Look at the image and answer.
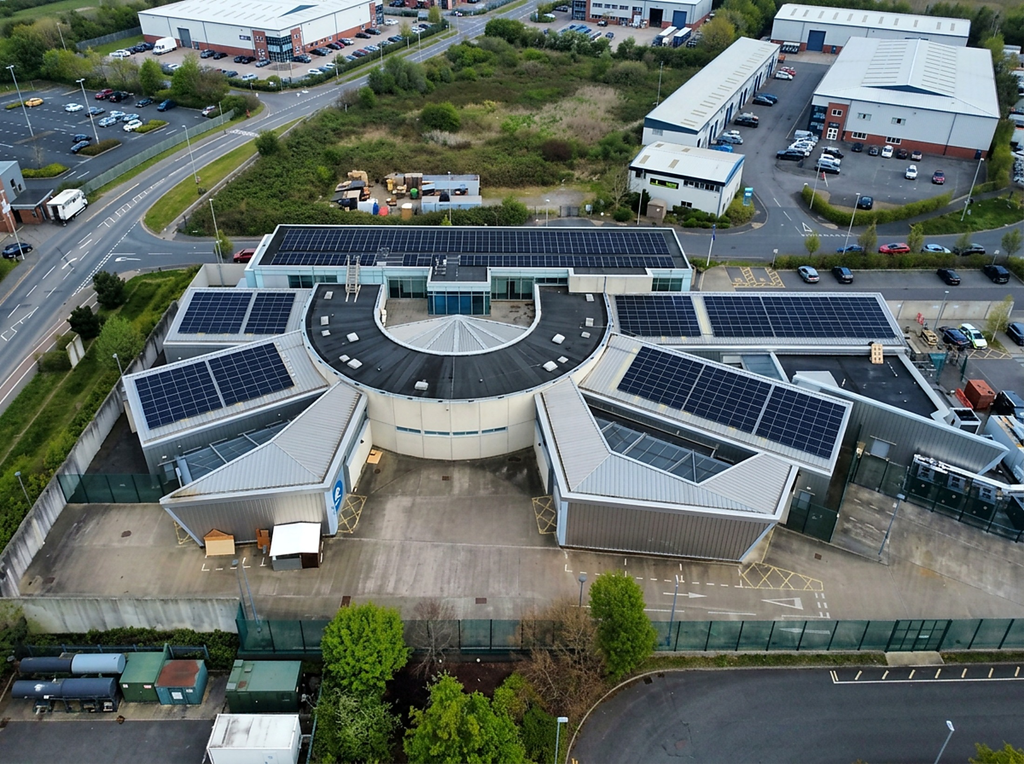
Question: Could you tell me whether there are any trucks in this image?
Yes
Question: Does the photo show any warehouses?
Yes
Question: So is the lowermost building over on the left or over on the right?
left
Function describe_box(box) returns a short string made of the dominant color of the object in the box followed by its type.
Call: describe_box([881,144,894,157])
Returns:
white vehicle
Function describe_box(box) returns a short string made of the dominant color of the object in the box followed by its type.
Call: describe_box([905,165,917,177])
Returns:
white vehicle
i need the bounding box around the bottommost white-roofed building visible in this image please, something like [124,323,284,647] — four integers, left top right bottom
[208,714,307,764]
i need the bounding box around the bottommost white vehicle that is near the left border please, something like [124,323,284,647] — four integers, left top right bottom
[41,190,89,223]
